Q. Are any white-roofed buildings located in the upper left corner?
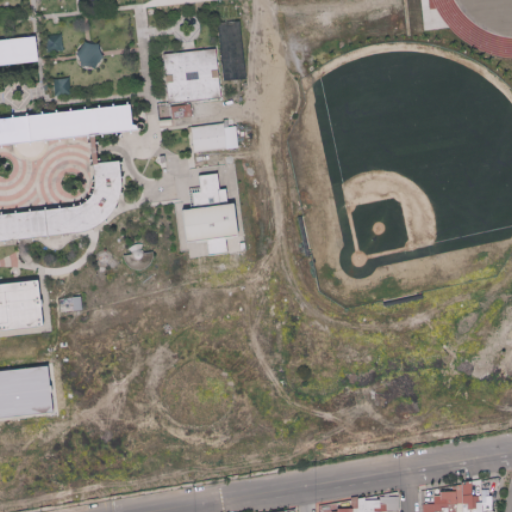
Yes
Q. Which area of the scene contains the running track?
top right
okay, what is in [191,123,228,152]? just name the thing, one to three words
building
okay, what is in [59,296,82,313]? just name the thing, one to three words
shed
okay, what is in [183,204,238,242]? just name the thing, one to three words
building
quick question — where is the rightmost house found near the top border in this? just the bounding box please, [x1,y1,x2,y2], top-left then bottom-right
[220,20,246,81]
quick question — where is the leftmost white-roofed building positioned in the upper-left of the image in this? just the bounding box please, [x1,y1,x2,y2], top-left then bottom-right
[0,36,38,66]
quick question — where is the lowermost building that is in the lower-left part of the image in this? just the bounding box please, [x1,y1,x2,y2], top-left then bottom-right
[0,365,53,418]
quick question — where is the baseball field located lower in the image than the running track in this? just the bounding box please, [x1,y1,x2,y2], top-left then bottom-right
[302,42,512,278]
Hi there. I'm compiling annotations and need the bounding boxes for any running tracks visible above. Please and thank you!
[430,0,512,58]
